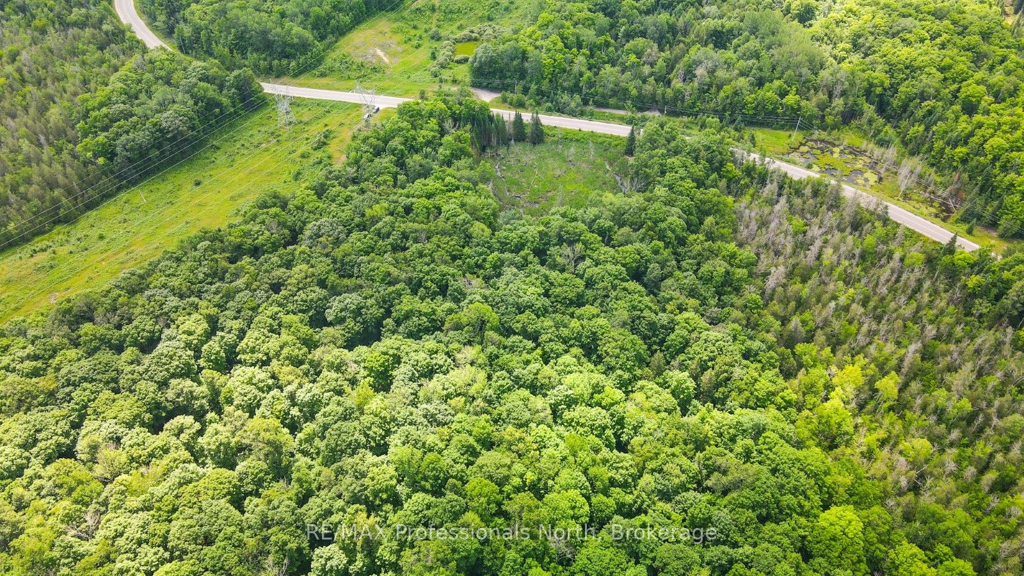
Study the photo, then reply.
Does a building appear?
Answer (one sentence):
No, the photo shows no building.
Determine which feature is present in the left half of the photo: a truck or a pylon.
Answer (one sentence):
There is a pylon in the left half of the photo.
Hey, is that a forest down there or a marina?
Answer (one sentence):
What you see here is a forest.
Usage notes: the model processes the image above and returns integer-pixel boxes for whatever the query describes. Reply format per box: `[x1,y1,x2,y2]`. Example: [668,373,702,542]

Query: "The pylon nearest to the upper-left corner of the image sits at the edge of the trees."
[264,76,300,130]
